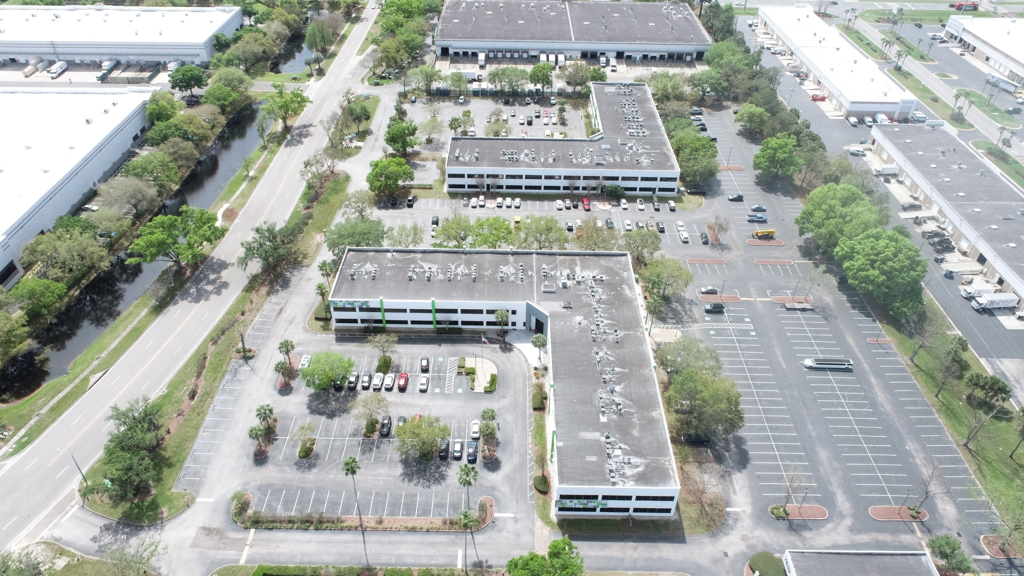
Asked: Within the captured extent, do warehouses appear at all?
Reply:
Yes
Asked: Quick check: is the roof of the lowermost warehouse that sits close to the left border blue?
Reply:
No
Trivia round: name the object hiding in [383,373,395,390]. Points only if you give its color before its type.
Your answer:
white vehicle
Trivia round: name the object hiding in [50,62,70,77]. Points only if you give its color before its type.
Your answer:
white vehicle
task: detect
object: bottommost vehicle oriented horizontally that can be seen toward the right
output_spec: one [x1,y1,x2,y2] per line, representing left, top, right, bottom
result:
[683,432,709,444]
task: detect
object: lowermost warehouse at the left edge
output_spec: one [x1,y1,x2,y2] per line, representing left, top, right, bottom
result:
[0,85,165,279]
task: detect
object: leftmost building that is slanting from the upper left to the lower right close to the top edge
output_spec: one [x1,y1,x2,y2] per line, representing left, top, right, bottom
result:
[751,0,930,121]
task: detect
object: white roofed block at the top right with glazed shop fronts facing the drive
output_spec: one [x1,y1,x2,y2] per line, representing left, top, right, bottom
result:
[940,20,1024,88]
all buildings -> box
[0,2,245,63]
[751,0,930,121]
[436,0,712,61]
[0,85,165,279]
[940,20,1024,88]
[329,247,681,516]
[775,549,938,576]
[445,82,680,194]
[867,119,1024,318]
